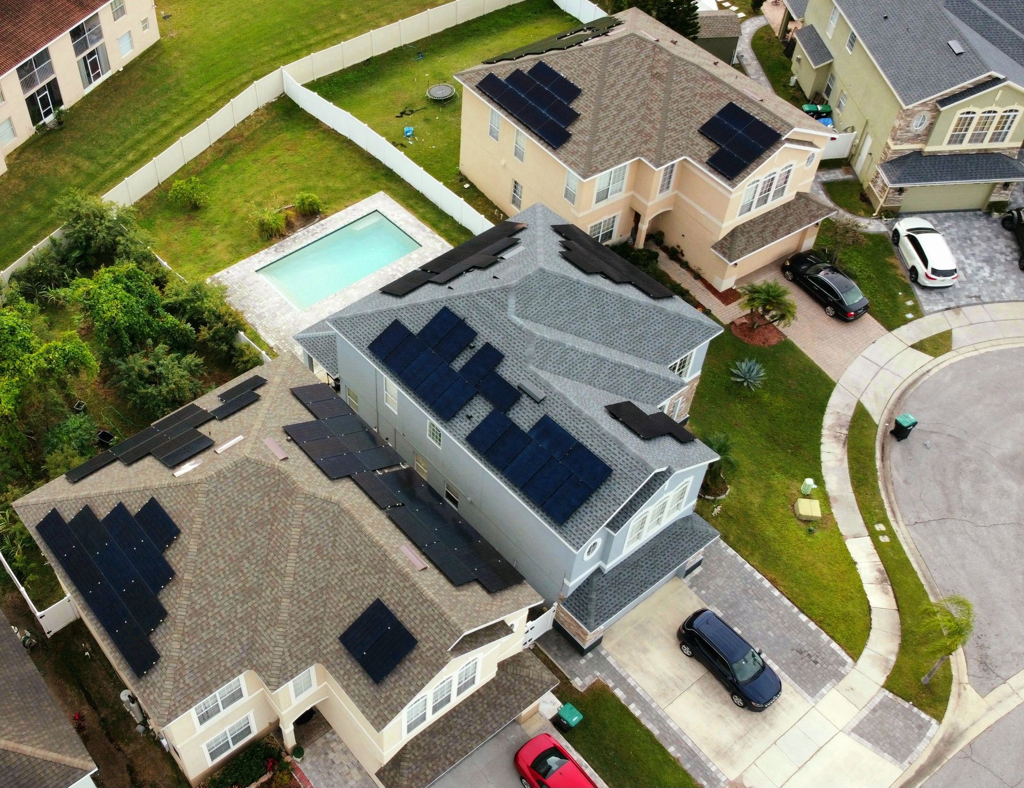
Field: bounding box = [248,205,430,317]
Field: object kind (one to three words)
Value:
swimming pool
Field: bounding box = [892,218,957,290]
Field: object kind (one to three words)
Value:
car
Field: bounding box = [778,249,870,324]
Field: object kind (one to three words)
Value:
car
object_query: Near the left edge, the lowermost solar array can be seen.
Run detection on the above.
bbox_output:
[32,499,180,678]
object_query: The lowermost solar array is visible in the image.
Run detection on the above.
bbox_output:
[339,601,416,684]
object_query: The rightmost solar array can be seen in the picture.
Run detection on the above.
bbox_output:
[700,103,779,178]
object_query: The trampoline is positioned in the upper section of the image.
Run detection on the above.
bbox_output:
[426,74,457,108]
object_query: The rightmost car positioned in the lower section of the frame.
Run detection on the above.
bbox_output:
[672,606,783,717]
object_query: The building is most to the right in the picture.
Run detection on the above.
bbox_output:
[781,0,1024,217]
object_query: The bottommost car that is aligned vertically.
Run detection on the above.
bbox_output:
[1002,210,1024,265]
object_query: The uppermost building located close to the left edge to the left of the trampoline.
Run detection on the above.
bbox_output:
[0,0,160,168]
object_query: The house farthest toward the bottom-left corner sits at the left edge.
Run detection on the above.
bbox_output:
[0,621,101,788]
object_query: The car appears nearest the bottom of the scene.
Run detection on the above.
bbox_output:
[510,732,603,788]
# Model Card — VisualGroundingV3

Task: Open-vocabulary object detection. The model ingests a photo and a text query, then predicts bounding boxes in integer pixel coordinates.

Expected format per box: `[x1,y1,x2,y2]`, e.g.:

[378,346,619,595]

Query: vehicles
[1002,210,1024,265]
[672,606,783,717]
[510,732,603,788]
[778,249,870,324]
[892,218,957,290]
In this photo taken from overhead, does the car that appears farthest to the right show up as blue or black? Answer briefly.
black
